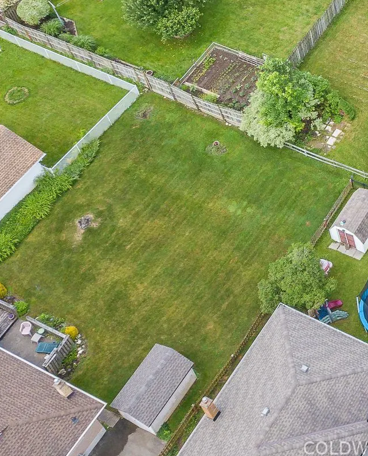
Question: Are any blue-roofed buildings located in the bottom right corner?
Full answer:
No, the scene shows no blue-roofed building in the bottom right corner.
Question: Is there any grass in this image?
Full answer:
Yes, grass shows up in the scene.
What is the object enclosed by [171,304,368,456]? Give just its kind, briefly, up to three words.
house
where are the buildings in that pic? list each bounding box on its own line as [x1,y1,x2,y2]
[0,124,49,220]
[330,187,368,254]
[0,346,109,456]
[171,304,368,456]
[110,345,205,442]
